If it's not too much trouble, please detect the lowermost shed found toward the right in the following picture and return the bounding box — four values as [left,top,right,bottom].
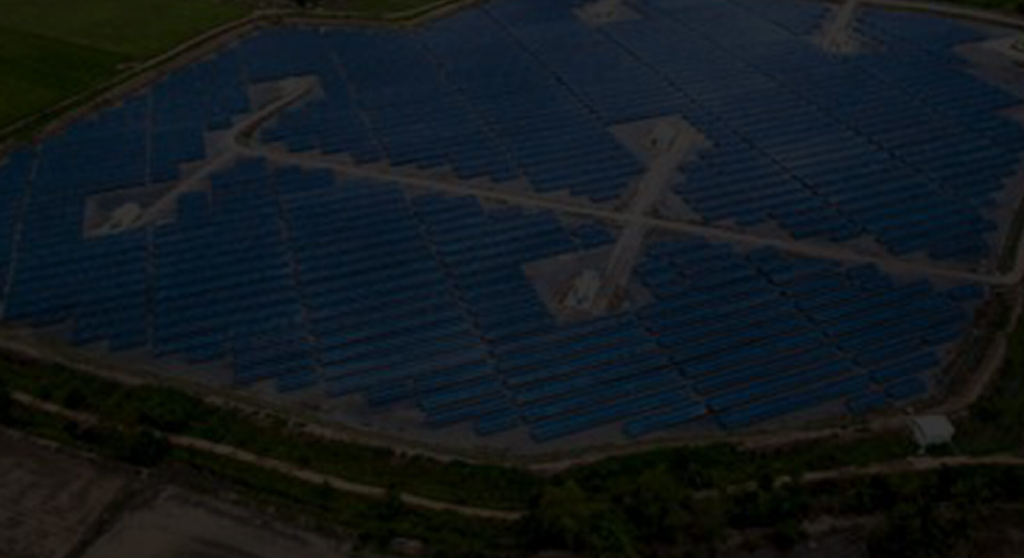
[912,412,952,446]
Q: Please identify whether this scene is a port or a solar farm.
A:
solar farm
